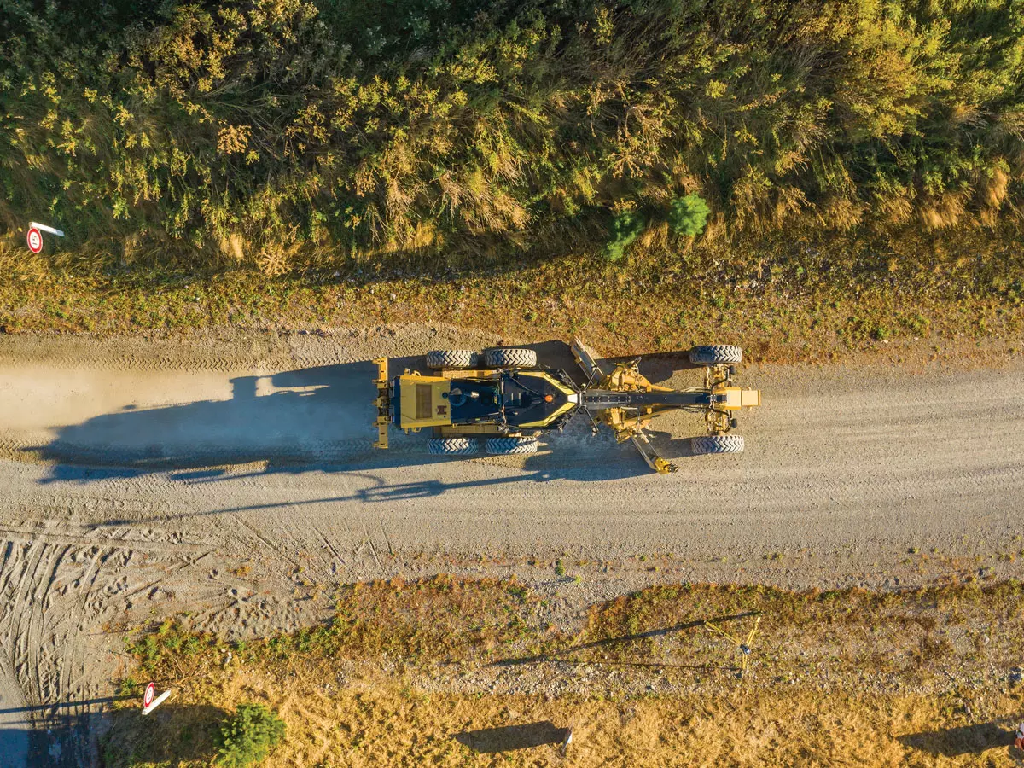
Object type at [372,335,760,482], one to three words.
work vehicle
